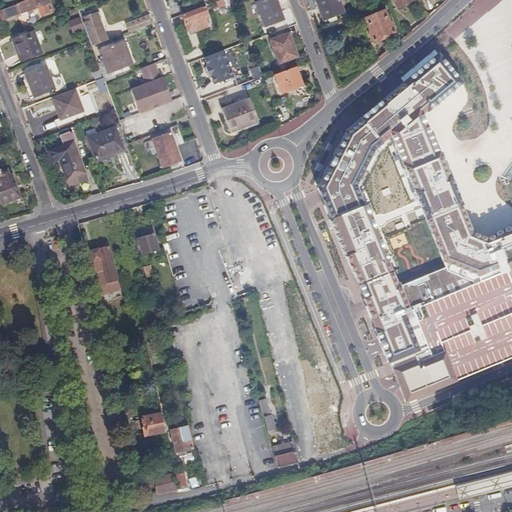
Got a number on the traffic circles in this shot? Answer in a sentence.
I count 2 traffic circles.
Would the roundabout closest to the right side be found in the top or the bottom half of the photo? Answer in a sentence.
The bottom half of the photo is where the roundabout closest to the right side is.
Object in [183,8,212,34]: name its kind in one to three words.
house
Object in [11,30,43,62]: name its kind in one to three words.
house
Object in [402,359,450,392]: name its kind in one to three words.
building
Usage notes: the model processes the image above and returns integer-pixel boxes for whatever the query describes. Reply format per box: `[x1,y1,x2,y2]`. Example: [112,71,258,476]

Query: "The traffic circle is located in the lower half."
[352,388,404,439]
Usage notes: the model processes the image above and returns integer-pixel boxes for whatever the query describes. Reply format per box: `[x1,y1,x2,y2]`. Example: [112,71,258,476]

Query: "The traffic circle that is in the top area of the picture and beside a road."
[247,136,305,194]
